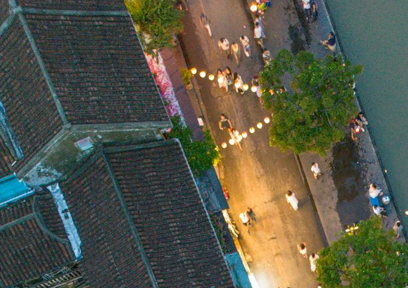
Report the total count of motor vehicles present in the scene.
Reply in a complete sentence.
I count no motor vehicles.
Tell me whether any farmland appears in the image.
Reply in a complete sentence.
No, the scene doesn't show any farmland.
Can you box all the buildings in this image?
[57,138,238,288]
[0,8,200,179]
